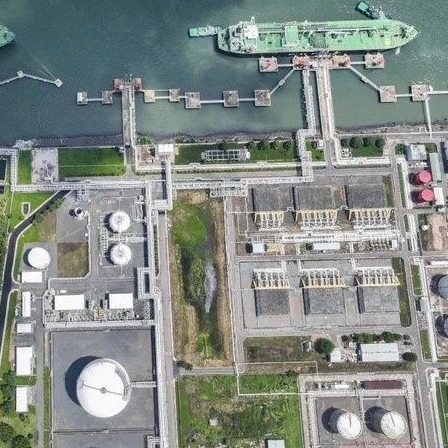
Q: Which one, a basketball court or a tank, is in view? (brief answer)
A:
tank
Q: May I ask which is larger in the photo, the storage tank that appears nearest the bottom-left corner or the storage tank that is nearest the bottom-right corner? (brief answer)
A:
the storage tank that appears nearest the bottom-left corner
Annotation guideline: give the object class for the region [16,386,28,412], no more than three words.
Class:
building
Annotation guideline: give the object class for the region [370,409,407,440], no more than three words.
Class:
storage tank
